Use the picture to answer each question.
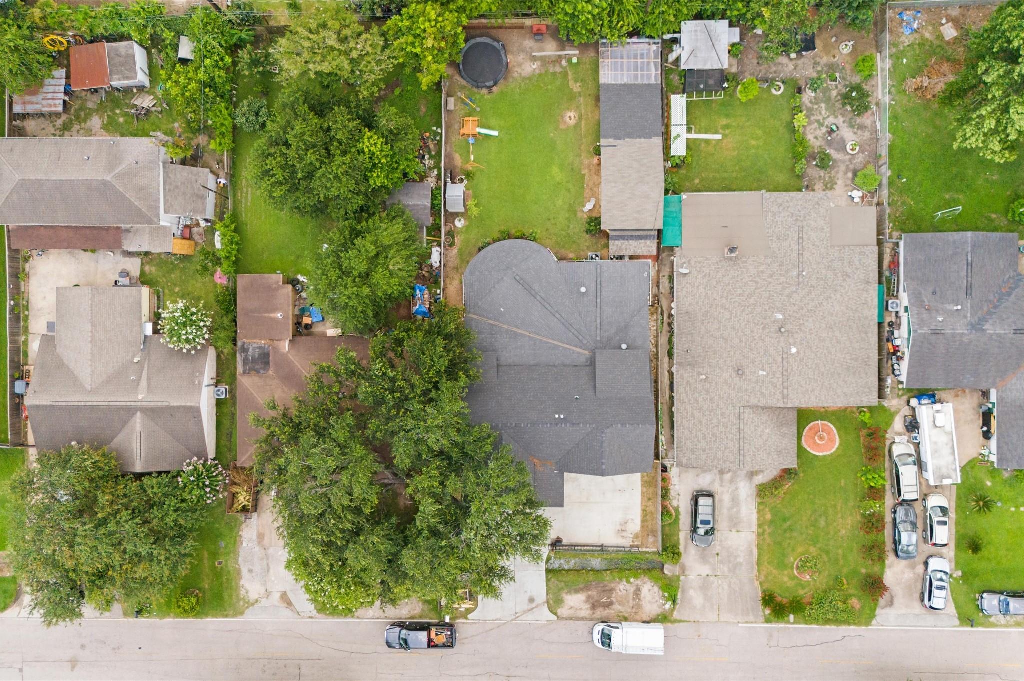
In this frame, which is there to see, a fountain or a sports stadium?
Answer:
fountain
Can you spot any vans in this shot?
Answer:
Yes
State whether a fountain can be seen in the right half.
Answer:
Yes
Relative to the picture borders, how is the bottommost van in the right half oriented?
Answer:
from side to side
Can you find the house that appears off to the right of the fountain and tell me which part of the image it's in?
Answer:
right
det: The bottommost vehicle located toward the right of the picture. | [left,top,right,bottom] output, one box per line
[592,618,667,656]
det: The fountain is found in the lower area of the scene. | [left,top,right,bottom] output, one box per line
[803,420,840,457]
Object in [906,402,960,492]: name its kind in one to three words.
trailer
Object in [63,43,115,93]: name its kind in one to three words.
shed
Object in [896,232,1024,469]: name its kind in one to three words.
house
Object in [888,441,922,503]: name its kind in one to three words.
car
